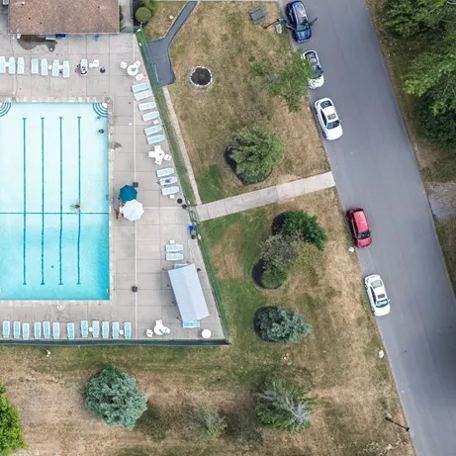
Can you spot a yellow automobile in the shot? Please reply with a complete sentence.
No, I find no yellow automobile anywhere in the image.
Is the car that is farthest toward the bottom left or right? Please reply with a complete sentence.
The car that is farthest toward the bottom is on the right side of the image.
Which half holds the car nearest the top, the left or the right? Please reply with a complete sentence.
You can find the car nearest the top on the right side of the picture.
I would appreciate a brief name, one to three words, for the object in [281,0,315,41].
car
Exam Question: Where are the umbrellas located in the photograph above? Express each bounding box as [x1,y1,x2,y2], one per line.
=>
[120,199,143,221]
[118,183,137,201]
